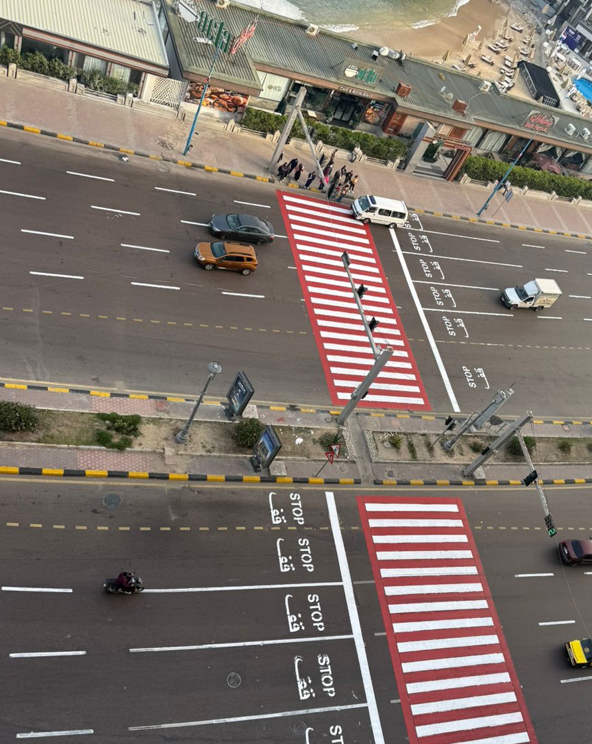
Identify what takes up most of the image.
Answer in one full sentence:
For the most part, this view shows paved ground.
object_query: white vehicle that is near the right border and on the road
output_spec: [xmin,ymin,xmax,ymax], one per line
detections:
[499,276,563,309]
